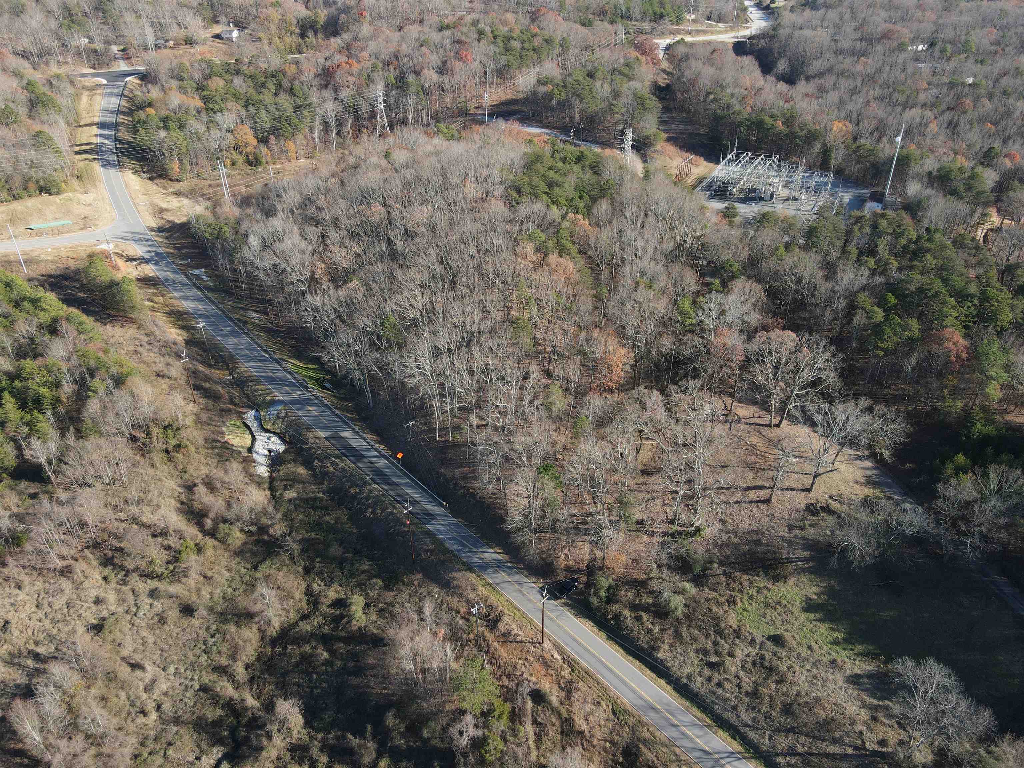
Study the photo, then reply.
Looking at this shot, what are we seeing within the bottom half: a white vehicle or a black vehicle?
black vehicle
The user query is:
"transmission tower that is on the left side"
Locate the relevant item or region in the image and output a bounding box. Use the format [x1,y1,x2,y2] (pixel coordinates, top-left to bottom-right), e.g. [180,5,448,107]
[371,87,392,136]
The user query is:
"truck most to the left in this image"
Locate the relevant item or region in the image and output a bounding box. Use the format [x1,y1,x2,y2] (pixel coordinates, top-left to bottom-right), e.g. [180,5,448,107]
[551,570,586,598]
